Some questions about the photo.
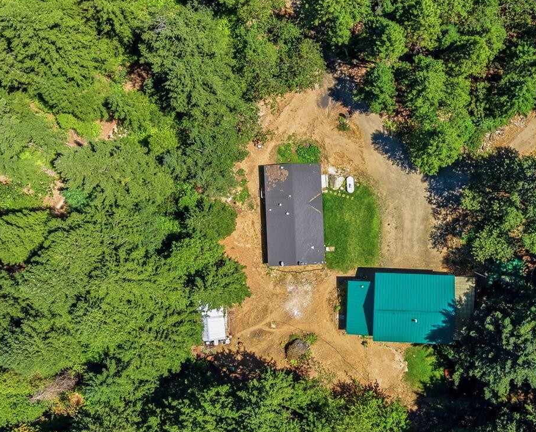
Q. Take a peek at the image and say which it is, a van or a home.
home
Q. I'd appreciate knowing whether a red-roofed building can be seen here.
No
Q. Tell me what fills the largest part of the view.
trees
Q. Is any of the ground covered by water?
No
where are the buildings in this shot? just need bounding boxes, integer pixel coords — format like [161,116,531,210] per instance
[203,306,231,344]
[346,272,475,345]
[264,162,326,267]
